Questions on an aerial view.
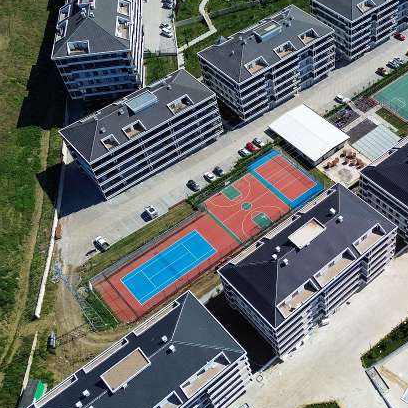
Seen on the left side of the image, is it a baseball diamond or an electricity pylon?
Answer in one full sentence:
The one visible on the left side of the image is an electricity pylon.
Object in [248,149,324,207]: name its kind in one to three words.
sports court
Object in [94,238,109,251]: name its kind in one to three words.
vehicle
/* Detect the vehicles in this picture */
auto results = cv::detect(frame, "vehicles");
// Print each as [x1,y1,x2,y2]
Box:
[159,23,171,29]
[204,173,216,183]
[160,29,174,35]
[45,331,62,353]
[145,207,158,220]
[376,68,388,77]
[213,166,224,176]
[246,143,257,152]
[160,3,173,9]
[187,181,200,192]
[94,238,109,251]
[238,148,250,158]
[252,138,265,148]
[389,59,402,68]
[332,91,346,103]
